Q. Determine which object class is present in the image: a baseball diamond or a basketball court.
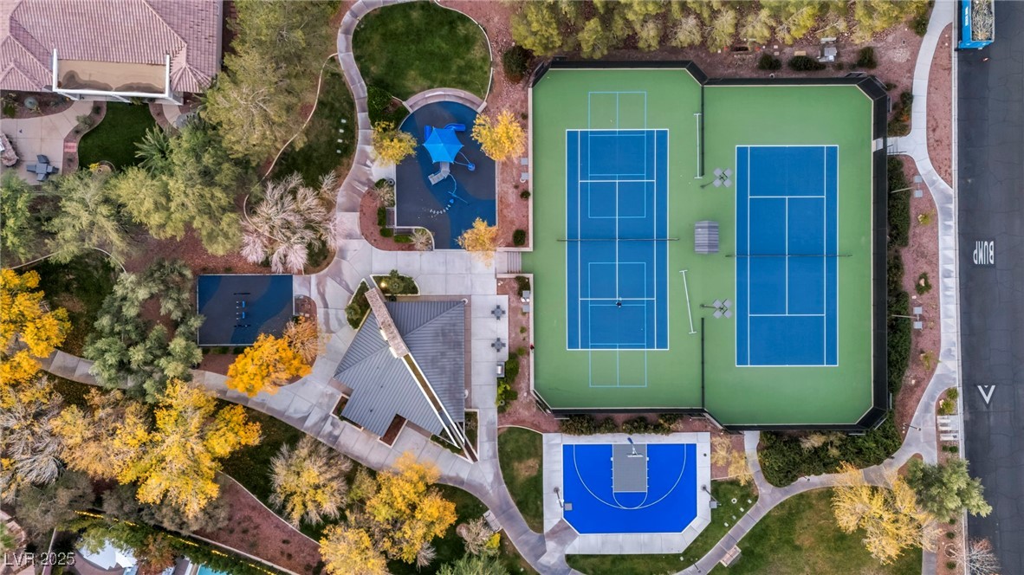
basketball court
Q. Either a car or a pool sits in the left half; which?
pool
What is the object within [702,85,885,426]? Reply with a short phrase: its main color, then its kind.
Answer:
green tennis court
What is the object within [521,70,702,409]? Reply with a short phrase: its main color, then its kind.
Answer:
green tennis court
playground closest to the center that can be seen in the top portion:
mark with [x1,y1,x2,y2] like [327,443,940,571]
[393,101,498,251]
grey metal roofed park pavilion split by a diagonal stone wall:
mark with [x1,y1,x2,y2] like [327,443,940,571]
[331,288,477,461]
